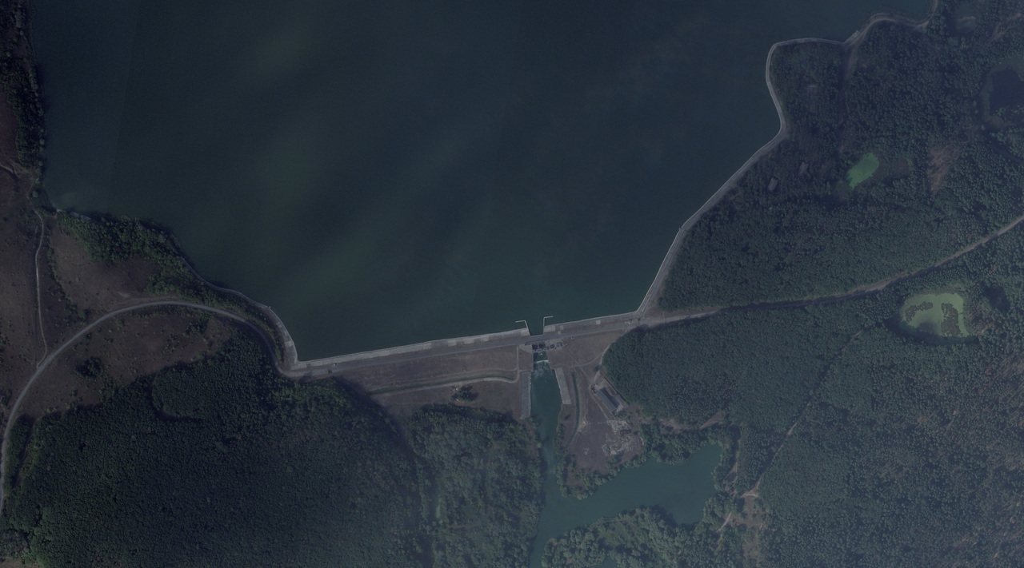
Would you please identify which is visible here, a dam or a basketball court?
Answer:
dam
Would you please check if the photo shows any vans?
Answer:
No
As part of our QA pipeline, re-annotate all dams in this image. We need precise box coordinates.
[291,311,638,371]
